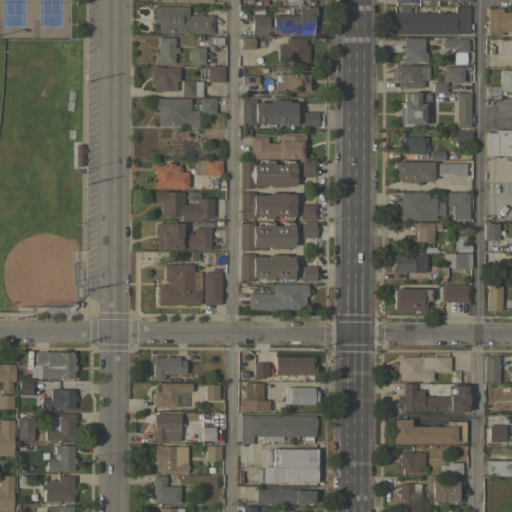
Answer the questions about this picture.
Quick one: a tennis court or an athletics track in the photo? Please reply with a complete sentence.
The image shows a tennis court.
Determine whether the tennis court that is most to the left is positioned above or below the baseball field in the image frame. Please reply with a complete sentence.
The tennis court that is most to the left is found above the baseball field in the photo.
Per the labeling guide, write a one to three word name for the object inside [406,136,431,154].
house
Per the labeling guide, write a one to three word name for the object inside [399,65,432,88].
house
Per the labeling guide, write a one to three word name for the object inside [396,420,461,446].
building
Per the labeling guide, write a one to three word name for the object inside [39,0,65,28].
tennis court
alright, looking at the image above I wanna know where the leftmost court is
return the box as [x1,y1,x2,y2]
[2,0,28,28]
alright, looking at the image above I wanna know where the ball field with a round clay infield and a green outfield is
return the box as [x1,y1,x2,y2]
[0,41,83,306]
